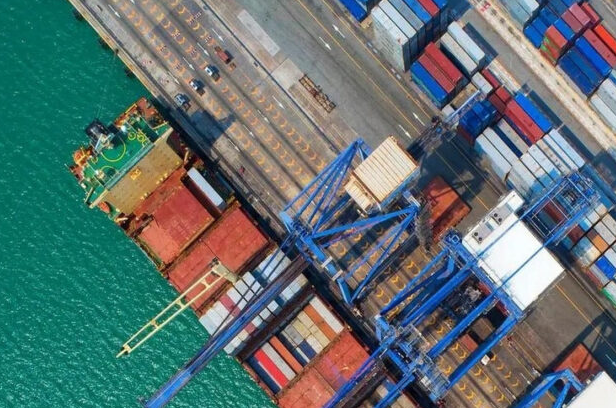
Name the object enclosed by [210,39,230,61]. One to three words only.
vehicle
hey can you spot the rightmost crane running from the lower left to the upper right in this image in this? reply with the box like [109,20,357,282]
[327,167,616,408]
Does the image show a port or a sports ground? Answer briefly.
port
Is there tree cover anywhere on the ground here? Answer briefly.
No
